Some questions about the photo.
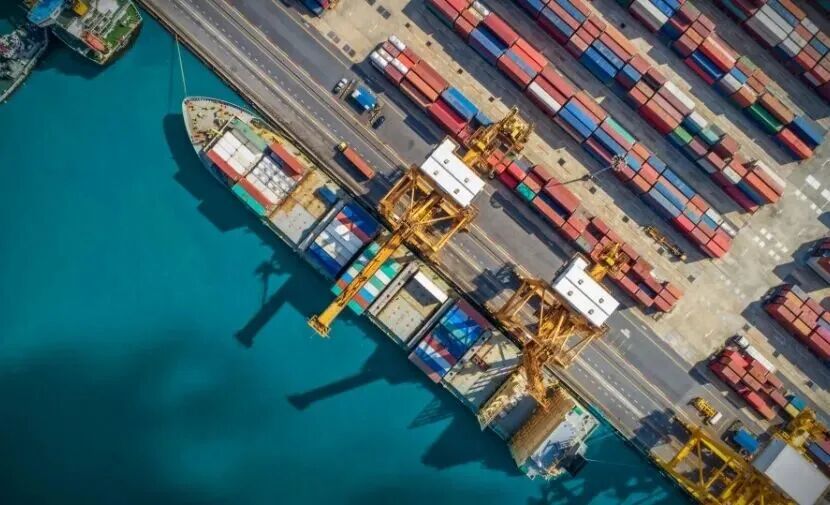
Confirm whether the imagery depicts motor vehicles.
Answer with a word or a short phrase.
Yes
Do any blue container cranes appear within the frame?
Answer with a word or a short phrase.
No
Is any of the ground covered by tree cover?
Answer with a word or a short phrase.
No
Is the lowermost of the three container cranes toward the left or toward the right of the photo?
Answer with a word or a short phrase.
right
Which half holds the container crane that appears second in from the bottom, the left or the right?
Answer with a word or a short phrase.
right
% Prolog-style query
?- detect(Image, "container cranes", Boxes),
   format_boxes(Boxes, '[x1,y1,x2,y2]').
[481,245,644,430]
[626,399,829,505]
[303,105,524,333]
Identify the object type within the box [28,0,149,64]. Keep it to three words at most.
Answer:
ship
